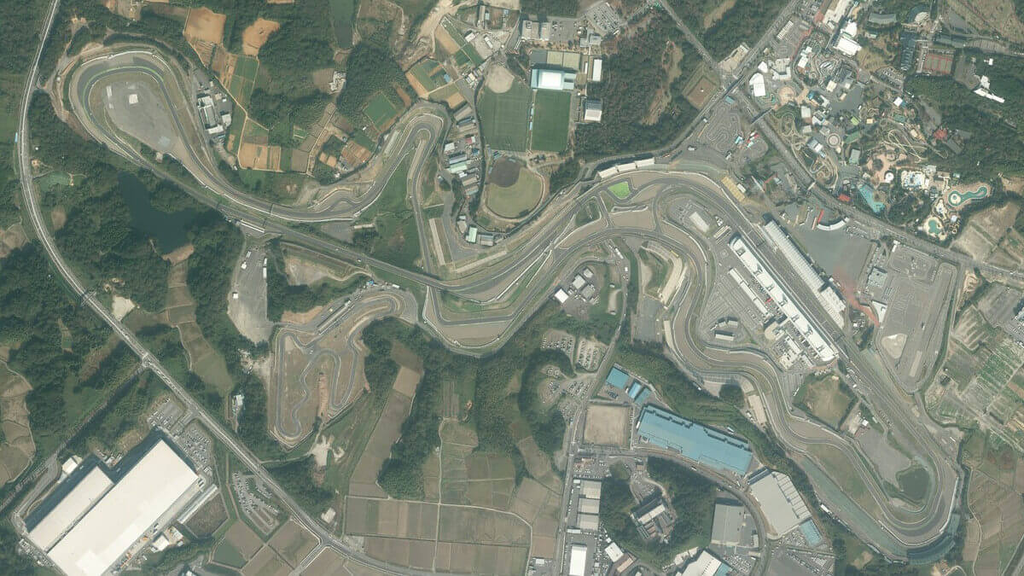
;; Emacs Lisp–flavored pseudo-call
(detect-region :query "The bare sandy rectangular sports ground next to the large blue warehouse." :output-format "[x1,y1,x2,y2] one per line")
[582,405,630,448]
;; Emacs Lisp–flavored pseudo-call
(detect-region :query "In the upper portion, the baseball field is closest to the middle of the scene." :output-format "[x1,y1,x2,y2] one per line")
[485,155,544,222]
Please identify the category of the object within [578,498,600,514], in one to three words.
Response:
building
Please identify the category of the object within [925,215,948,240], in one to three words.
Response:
swimming pool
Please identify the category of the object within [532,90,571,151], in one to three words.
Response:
soccer field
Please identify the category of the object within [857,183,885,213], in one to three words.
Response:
swimming pool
